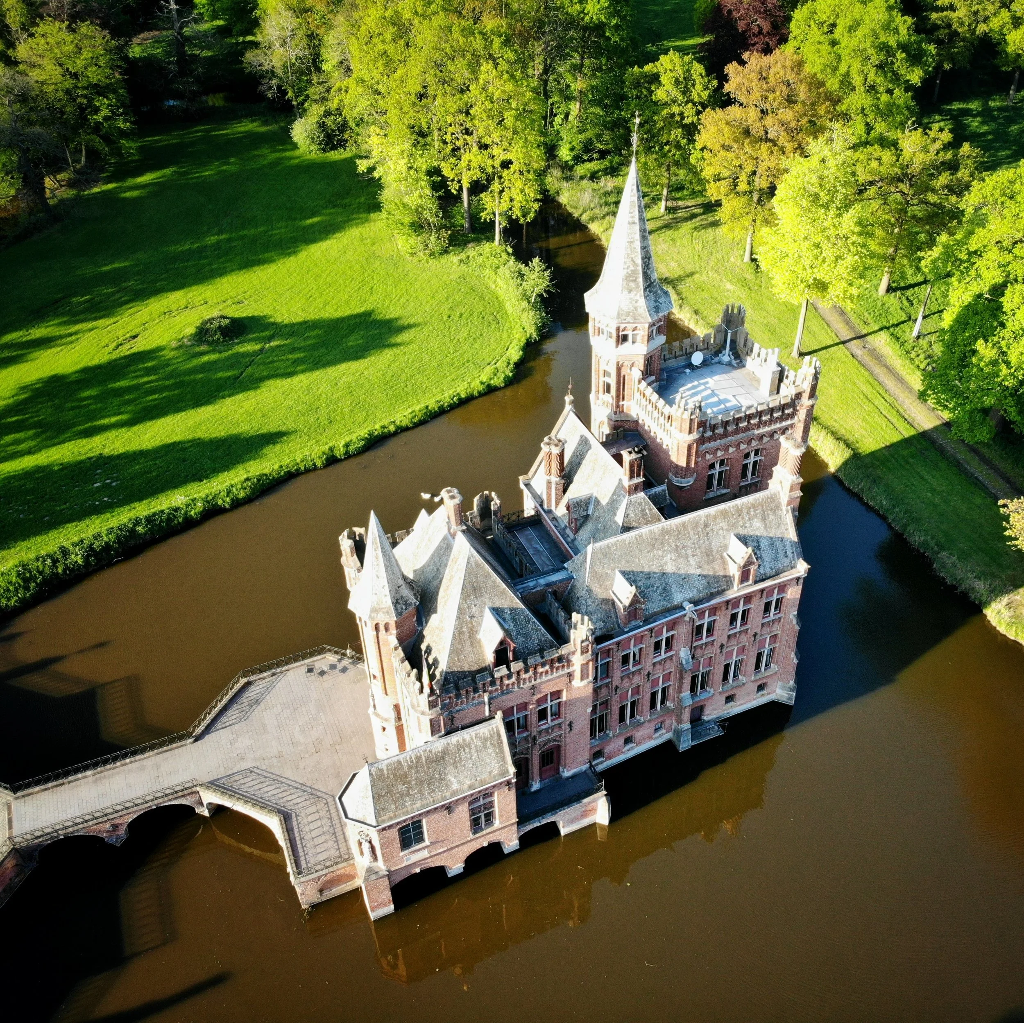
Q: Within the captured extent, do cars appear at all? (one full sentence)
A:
No, there isn't any car down there.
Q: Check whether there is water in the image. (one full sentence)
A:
Yes, the picture does contain water.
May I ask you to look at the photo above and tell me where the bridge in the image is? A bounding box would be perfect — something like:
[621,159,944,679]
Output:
[0,651,414,911]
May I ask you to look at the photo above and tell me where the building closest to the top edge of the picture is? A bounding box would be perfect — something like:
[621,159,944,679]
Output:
[336,109,822,805]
